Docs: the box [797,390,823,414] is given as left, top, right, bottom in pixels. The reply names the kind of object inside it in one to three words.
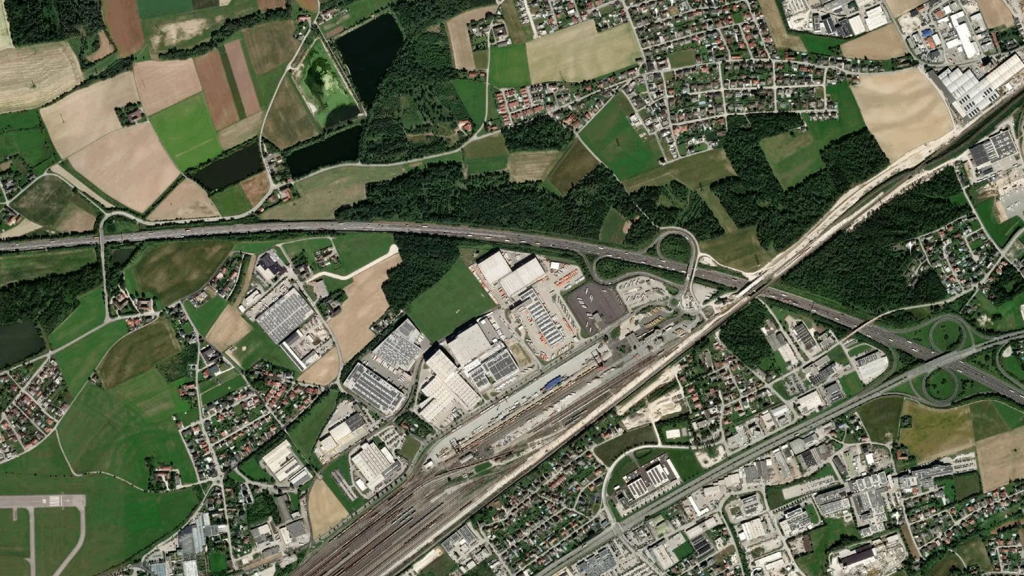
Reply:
building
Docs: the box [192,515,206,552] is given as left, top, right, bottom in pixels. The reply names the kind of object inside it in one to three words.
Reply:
greenhouse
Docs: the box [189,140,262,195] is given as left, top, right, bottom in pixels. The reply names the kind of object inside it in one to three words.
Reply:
pond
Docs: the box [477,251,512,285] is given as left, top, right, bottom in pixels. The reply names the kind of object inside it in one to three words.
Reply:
building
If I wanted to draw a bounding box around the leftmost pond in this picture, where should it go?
[0,320,45,370]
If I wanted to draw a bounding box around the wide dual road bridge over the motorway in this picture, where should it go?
[892,332,1002,386]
